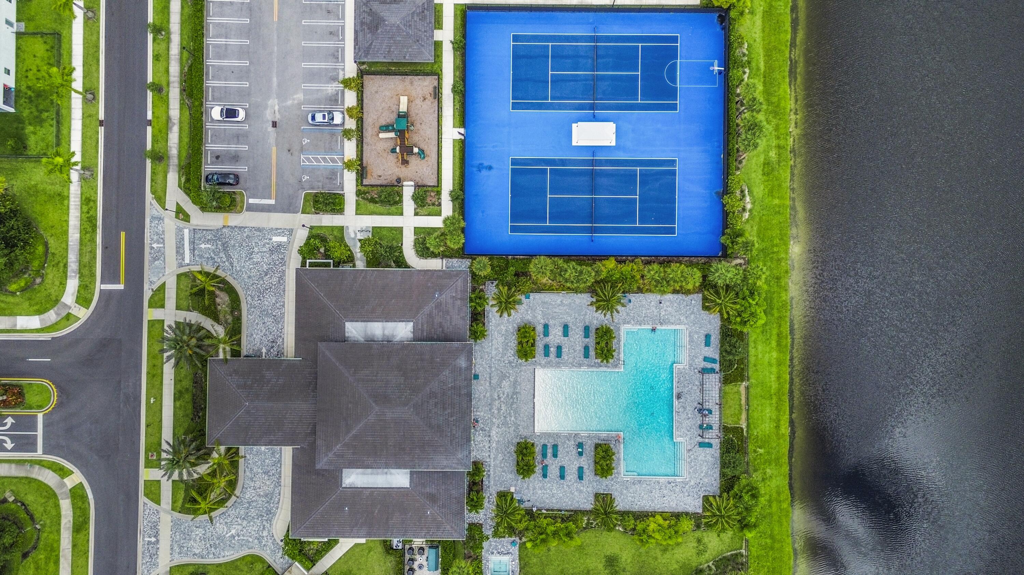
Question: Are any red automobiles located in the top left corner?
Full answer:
No, in the top left corner there is no red automobile.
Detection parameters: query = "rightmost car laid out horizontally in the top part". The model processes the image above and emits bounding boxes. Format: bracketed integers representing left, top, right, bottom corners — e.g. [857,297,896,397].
[307,108,343,125]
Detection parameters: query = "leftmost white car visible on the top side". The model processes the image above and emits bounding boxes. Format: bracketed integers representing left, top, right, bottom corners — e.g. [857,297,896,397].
[210,104,245,121]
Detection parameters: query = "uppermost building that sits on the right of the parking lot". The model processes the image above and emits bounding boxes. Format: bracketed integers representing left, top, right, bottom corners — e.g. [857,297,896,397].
[354,0,435,62]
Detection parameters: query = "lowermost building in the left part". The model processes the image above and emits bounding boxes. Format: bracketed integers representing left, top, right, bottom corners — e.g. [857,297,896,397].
[206,268,473,540]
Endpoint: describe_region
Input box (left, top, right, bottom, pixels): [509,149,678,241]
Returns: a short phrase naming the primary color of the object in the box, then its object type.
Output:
blue tennis court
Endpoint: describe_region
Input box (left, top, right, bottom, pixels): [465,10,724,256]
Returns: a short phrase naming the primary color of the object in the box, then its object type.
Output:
blue sports court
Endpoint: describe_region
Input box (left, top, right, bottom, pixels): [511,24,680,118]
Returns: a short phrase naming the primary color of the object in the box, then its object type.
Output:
blue tennis court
